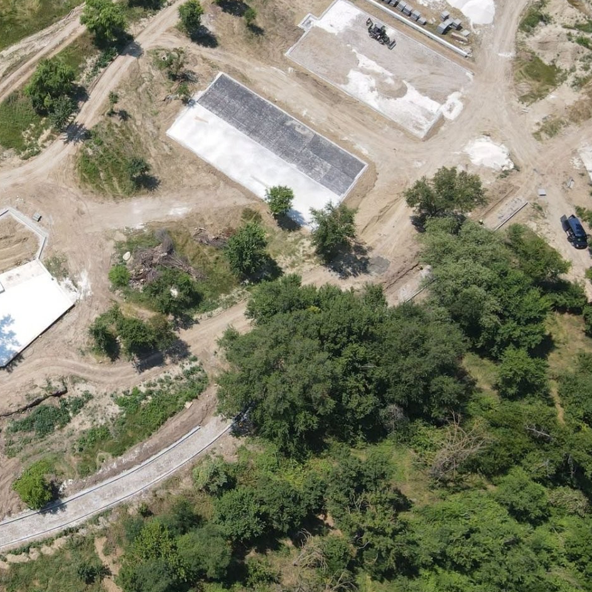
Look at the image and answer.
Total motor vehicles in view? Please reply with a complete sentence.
My tally gives 2 motor vehicles in this view.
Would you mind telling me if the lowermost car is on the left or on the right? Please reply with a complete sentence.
It is on the right.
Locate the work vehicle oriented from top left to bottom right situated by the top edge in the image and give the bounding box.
[367,11,401,51]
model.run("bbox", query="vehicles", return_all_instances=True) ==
[367,11,401,51]
[563,208,588,247]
